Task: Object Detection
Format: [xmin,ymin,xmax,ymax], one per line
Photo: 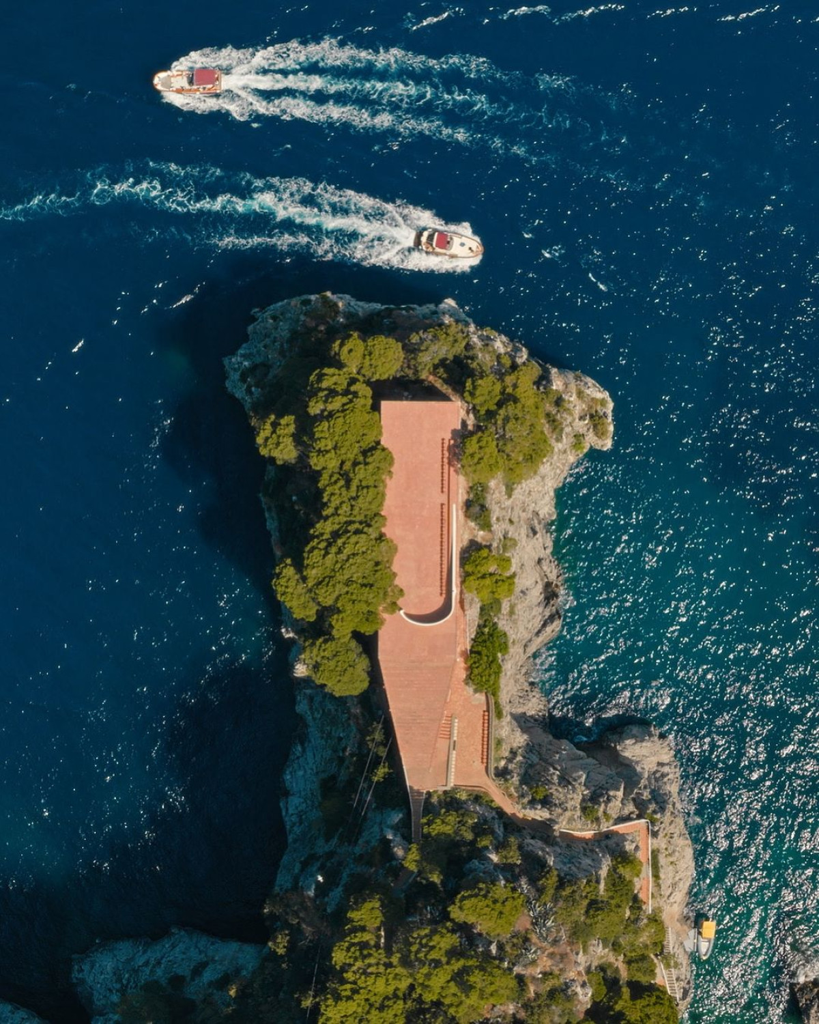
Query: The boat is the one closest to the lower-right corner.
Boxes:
[697,913,718,963]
